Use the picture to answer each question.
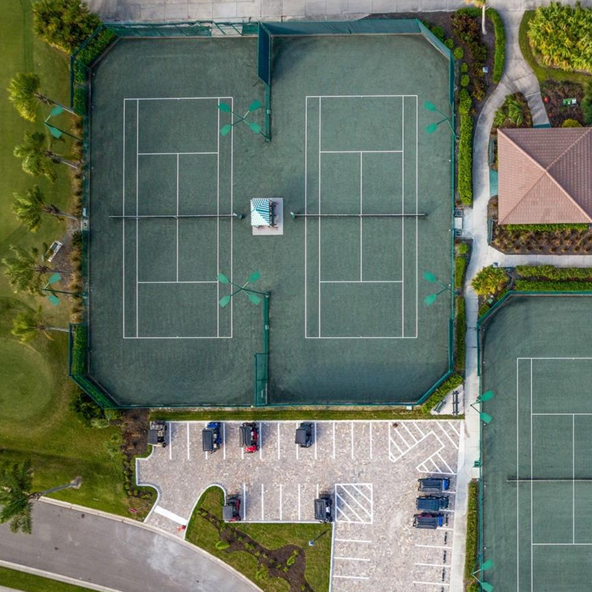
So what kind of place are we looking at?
sports ground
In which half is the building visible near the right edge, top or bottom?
top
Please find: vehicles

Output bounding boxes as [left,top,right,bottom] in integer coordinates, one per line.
[202,420,222,454]
[146,417,167,448]
[295,421,313,448]
[417,495,450,512]
[418,477,450,492]
[314,492,332,522]
[413,514,446,530]
[222,494,241,522]
[239,420,258,453]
